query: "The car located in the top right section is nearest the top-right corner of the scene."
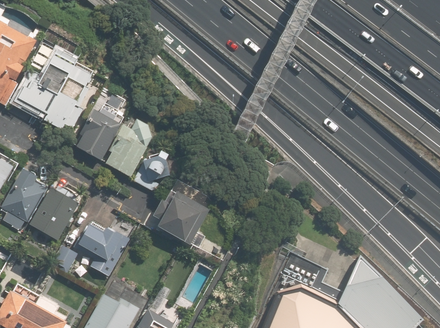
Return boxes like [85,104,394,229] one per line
[374,2,388,15]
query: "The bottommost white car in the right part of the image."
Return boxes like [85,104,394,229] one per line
[323,118,338,130]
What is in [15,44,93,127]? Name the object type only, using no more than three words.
house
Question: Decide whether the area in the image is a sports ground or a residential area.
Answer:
residential area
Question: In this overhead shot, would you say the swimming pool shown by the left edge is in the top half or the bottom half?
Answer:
top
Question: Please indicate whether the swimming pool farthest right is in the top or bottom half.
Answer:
bottom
